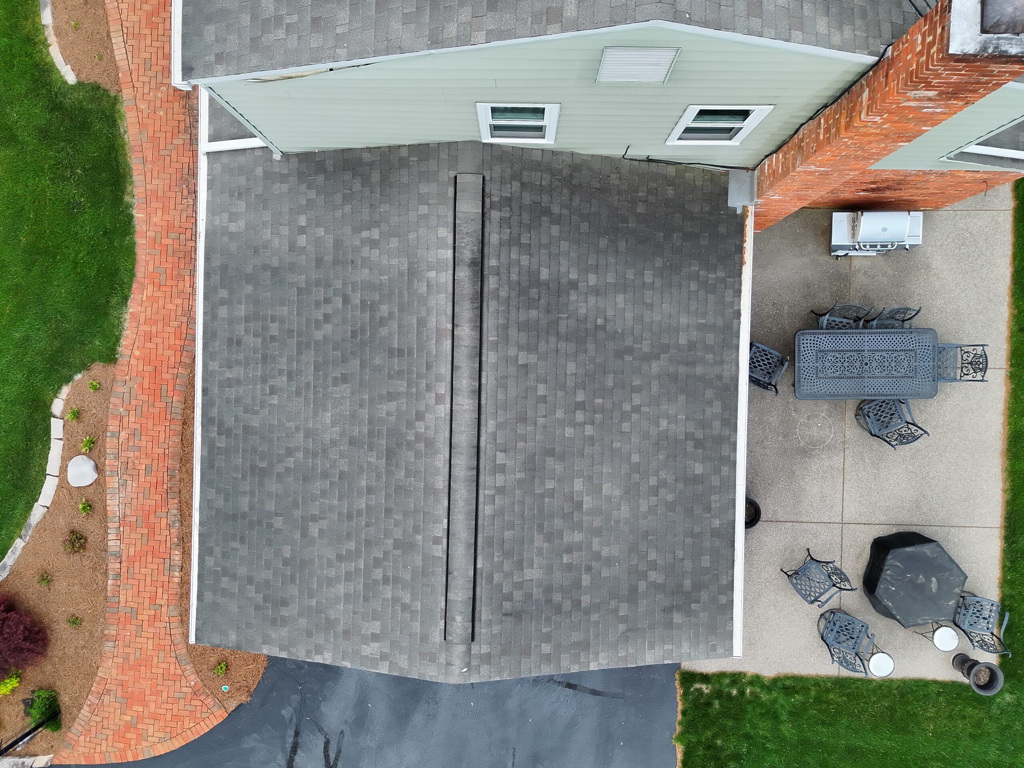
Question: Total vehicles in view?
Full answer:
No vehicles are visible.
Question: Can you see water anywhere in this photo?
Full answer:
No, the scene doesn't show any water.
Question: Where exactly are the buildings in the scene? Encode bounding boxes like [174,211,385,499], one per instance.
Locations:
[171,0,1024,686]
